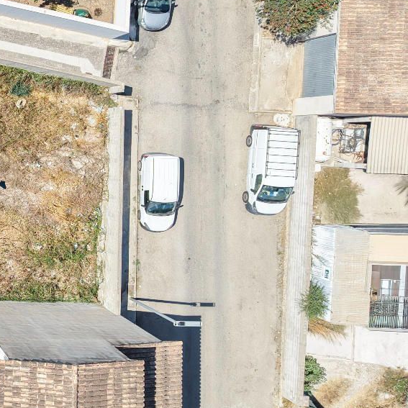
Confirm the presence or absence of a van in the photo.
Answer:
Yes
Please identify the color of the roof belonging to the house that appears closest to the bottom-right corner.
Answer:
white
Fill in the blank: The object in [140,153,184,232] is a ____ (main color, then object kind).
white van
